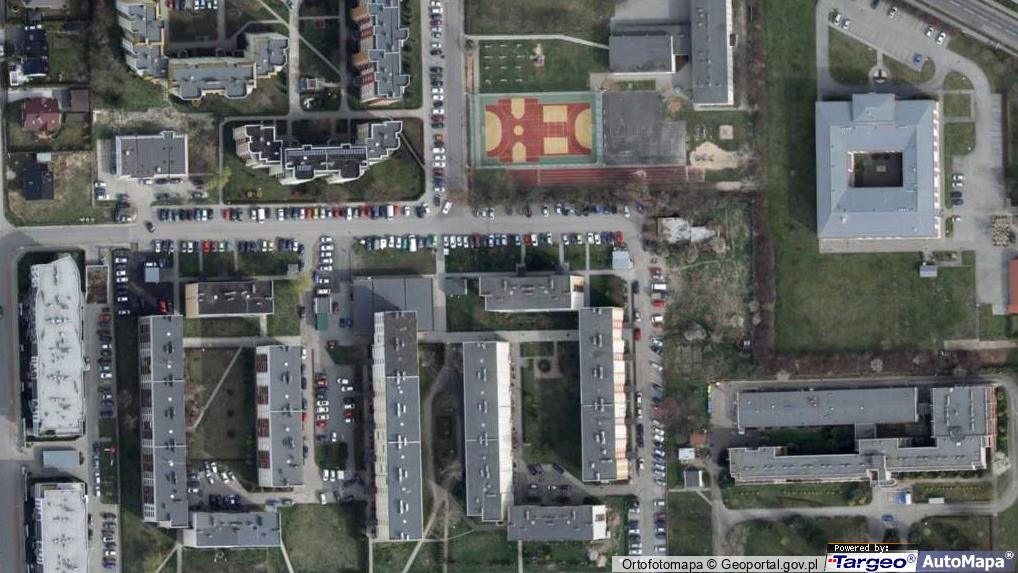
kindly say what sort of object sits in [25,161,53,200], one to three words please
house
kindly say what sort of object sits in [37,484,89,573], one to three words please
building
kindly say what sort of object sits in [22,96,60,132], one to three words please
house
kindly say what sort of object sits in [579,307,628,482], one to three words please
building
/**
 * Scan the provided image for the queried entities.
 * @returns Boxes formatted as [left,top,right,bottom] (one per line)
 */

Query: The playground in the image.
[690,141,739,169]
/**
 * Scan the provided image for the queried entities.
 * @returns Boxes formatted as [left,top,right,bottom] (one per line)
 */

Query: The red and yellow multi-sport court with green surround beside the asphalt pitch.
[471,90,602,169]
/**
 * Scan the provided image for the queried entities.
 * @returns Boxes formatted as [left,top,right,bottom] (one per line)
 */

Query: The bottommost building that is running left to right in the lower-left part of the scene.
[185,512,281,549]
